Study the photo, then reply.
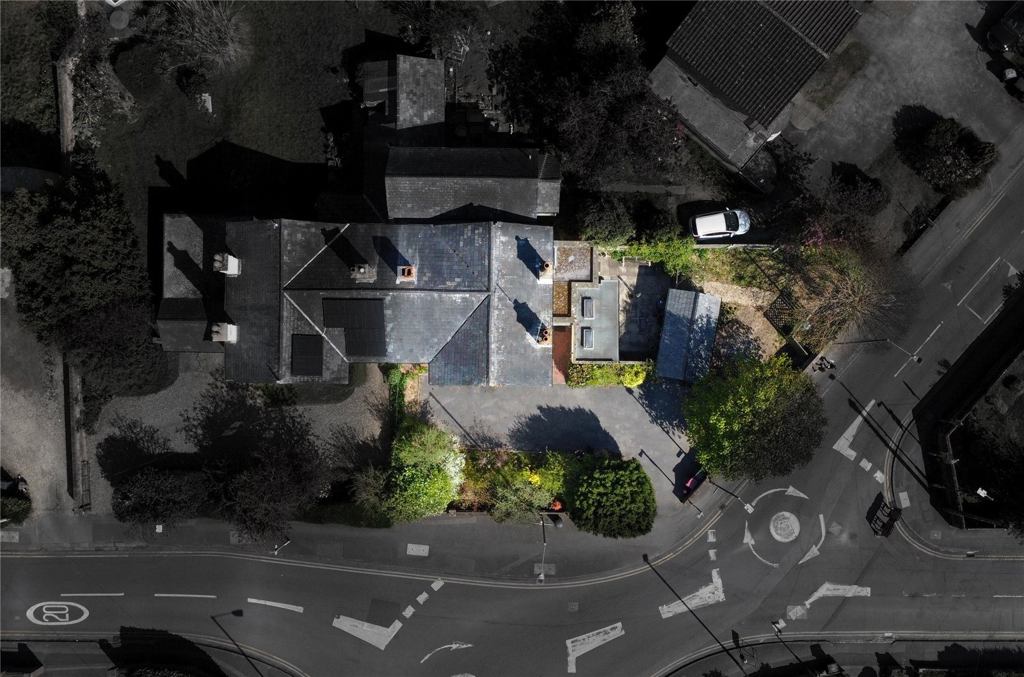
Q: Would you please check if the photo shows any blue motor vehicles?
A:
No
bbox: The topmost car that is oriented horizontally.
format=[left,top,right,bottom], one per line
[685,210,749,244]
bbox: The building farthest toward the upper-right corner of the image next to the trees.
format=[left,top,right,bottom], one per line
[647,0,853,176]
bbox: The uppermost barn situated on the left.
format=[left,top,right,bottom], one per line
[365,53,445,131]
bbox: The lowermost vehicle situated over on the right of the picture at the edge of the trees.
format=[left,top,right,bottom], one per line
[676,461,720,503]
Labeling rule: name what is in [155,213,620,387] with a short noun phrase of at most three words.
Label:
house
